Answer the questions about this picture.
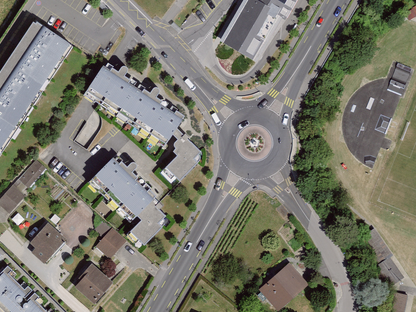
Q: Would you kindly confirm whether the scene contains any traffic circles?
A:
Yes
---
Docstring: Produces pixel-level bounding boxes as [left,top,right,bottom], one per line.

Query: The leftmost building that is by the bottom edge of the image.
[0,266,44,312]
